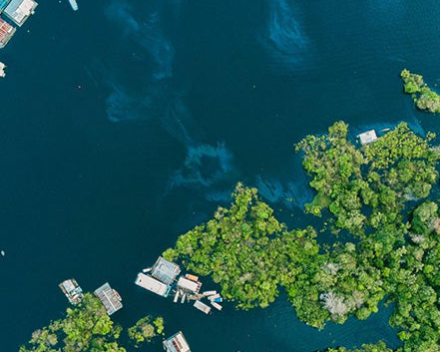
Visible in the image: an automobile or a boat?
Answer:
boat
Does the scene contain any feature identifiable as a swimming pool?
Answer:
No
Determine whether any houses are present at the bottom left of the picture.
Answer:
Yes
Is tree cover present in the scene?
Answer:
Yes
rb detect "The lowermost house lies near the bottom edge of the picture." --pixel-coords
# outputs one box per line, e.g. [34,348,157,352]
[165,329,190,352]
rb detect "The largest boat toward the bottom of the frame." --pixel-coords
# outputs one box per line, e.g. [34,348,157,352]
[135,271,172,297]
